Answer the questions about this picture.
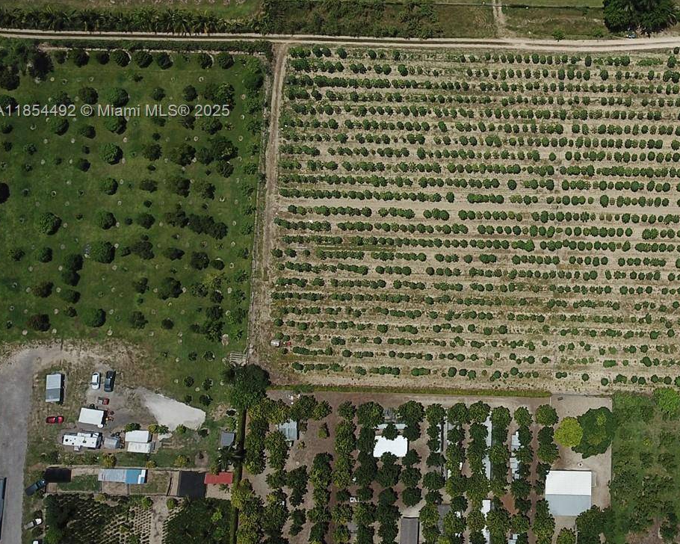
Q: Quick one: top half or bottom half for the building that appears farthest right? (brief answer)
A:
bottom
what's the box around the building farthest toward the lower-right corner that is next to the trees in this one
[546,468,595,516]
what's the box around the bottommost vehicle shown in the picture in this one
[22,516,43,532]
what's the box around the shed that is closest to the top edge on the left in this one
[43,372,67,402]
